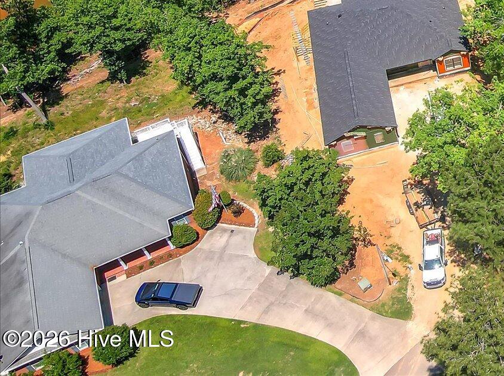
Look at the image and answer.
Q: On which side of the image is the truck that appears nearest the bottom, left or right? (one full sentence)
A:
The truck that appears nearest the bottom sits on the left side.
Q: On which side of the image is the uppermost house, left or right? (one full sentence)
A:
The uppermost house appears in the right half of the scene.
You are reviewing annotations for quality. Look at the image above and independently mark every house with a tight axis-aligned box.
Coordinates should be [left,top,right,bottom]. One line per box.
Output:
[309,0,472,160]
[0,106,211,376]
